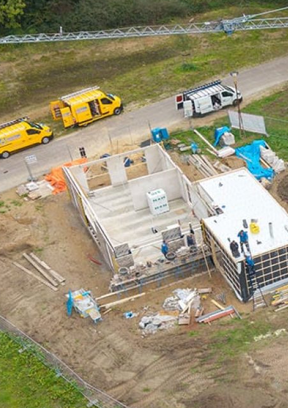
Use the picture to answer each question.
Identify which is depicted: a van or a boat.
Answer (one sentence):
Of the two, only a van appears.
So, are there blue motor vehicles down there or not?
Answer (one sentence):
No, no blue motor vehicle is visible in the view.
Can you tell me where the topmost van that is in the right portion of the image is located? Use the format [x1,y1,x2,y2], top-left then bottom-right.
[175,85,234,118]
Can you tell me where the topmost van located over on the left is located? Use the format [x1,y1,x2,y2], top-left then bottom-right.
[52,94,119,129]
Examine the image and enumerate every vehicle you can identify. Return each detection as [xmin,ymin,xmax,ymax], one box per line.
[175,85,234,118]
[0,122,46,159]
[52,94,119,129]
